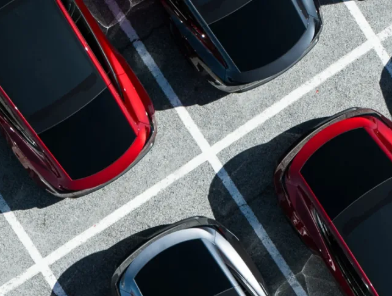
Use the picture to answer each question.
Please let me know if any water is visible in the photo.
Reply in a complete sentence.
No, no water is visible.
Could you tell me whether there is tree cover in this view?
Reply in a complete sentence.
No, the picture contains no tree cover.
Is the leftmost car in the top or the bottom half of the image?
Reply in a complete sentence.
The leftmost car is in the top half of the image.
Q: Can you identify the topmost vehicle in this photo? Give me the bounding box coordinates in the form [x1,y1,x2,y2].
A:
[153,0,327,95]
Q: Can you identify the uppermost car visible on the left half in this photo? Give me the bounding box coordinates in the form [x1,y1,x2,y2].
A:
[0,0,160,202]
